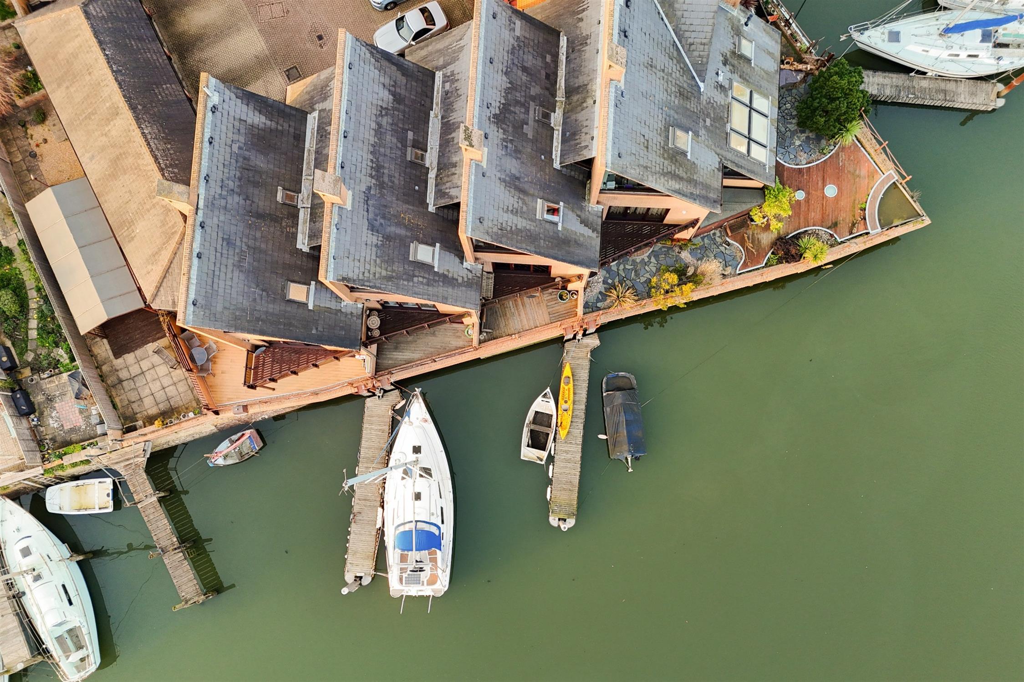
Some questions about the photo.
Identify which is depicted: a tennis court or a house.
house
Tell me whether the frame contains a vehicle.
Yes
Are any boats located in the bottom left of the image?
Yes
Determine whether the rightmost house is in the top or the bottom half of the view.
top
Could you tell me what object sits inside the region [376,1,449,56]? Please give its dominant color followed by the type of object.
white car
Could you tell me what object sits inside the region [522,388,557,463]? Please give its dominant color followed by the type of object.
white boat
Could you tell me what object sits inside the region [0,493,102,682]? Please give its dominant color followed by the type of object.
white boat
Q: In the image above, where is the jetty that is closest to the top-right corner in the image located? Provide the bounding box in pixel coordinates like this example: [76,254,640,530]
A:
[855,69,1004,117]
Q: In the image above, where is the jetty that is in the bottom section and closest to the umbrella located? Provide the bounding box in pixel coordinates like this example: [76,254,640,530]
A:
[86,442,218,612]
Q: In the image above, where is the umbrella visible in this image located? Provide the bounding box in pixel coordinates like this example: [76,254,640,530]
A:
[68,371,91,400]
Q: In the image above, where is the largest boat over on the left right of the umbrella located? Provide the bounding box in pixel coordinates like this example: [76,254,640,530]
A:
[336,385,453,618]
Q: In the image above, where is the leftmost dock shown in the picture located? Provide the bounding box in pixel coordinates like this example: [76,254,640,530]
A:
[0,585,43,678]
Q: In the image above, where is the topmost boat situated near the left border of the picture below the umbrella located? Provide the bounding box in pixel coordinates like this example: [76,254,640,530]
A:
[44,480,120,513]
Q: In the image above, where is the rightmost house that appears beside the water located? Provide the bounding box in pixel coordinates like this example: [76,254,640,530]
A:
[532,0,781,273]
